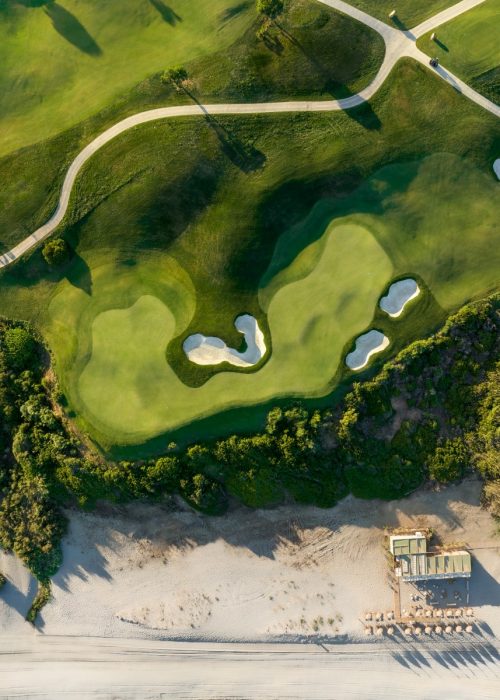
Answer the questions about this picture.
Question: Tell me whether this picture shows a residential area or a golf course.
golf course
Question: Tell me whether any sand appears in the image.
Yes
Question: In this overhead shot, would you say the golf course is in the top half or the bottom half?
top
